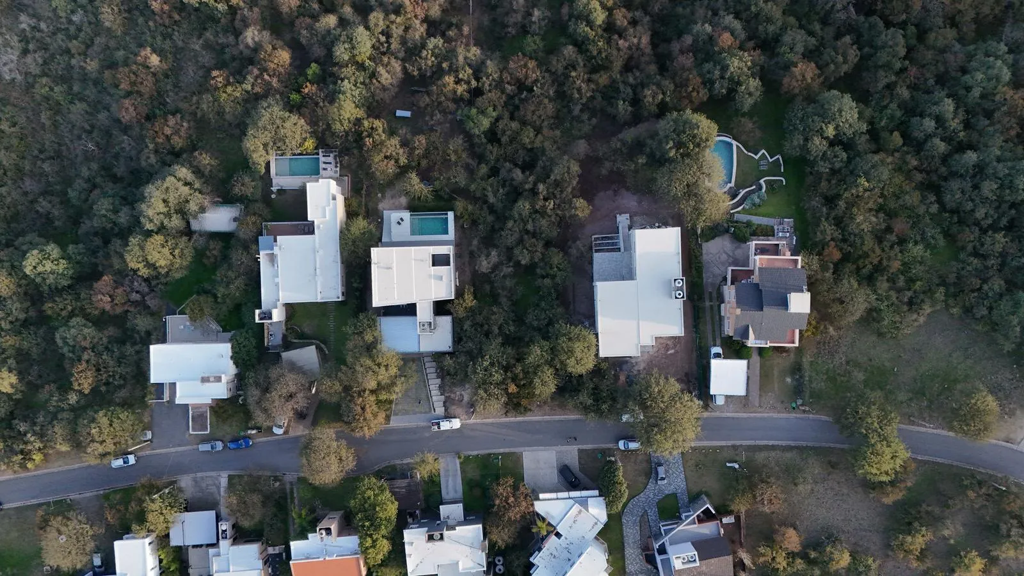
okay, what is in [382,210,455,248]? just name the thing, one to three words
swimming pool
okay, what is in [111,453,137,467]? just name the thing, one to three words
car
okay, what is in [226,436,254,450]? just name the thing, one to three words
vehicle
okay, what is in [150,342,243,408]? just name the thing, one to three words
house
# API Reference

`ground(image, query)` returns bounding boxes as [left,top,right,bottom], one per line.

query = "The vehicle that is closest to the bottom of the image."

[91,551,105,574]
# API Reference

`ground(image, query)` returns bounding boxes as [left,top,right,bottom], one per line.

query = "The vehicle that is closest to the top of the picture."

[710,345,722,359]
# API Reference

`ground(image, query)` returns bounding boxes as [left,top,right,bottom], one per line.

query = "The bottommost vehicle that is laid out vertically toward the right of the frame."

[655,461,667,484]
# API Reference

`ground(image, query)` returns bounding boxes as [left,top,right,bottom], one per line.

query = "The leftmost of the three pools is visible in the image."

[271,149,341,190]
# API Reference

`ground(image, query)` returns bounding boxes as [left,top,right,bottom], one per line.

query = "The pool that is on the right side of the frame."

[707,133,736,193]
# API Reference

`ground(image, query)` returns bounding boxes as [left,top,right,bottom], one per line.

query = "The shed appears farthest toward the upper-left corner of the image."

[190,205,243,232]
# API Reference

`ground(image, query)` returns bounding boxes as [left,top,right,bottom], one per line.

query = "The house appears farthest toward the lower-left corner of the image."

[93,526,165,576]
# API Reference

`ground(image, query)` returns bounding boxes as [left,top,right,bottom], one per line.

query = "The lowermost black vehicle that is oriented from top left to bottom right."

[559,464,579,488]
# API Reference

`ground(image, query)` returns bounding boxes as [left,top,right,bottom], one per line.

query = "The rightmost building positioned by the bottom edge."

[650,494,734,576]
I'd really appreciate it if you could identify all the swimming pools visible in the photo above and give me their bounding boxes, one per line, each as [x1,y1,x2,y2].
[707,133,736,193]
[382,210,455,248]
[271,149,341,190]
